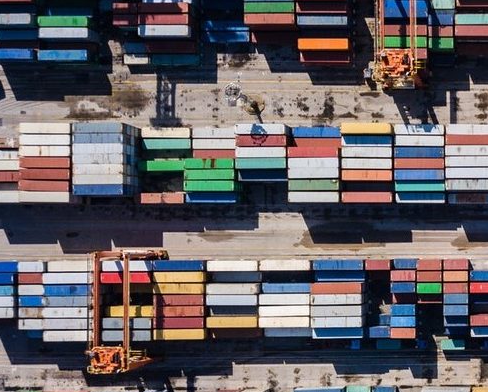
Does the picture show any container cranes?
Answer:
Yes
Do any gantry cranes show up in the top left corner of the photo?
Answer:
No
